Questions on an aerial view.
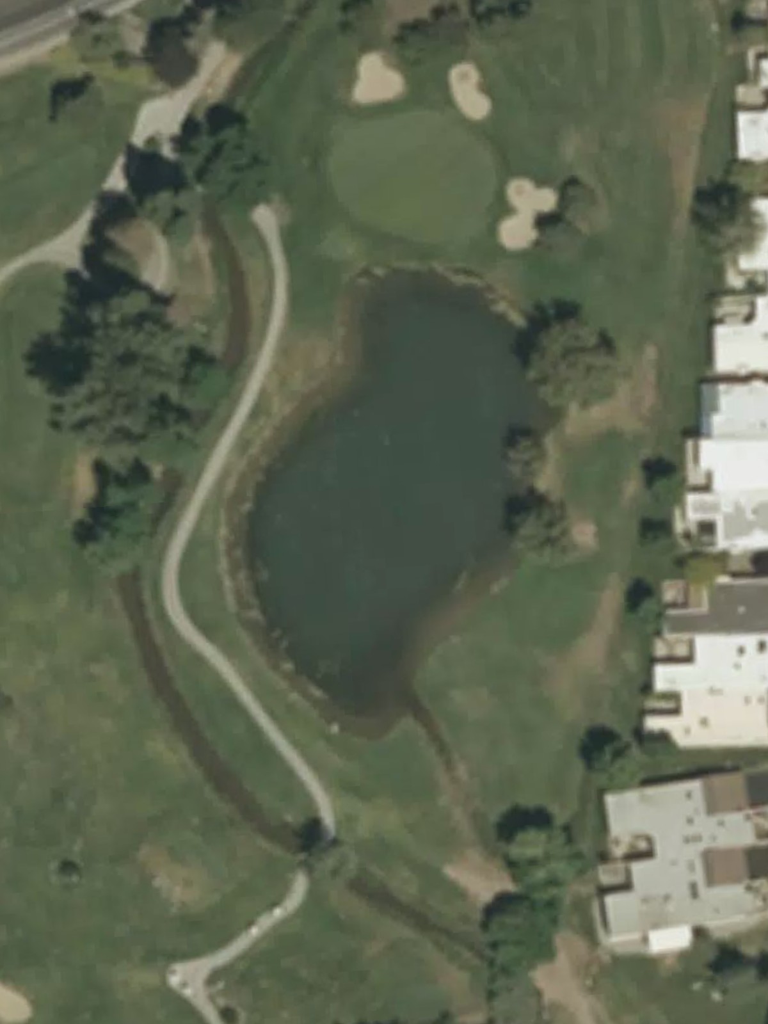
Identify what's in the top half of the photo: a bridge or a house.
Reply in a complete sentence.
You can see a house in the top half of the photo.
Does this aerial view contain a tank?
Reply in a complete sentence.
No, this view has no tank in it.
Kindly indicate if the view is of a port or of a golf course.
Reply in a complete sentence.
What you see here is a golf course.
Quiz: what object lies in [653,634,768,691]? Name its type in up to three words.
house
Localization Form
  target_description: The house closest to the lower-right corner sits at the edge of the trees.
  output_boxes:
[593,769,768,955]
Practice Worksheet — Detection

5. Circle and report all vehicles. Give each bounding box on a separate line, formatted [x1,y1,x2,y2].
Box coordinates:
[272,906,283,917]
[181,986,192,998]
[170,974,179,986]
[249,924,260,935]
